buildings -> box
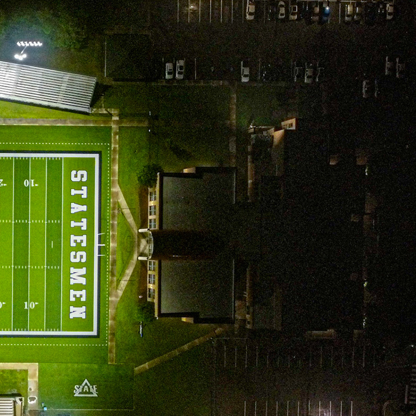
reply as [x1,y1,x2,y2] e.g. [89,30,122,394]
[243,119,371,340]
[136,166,235,324]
